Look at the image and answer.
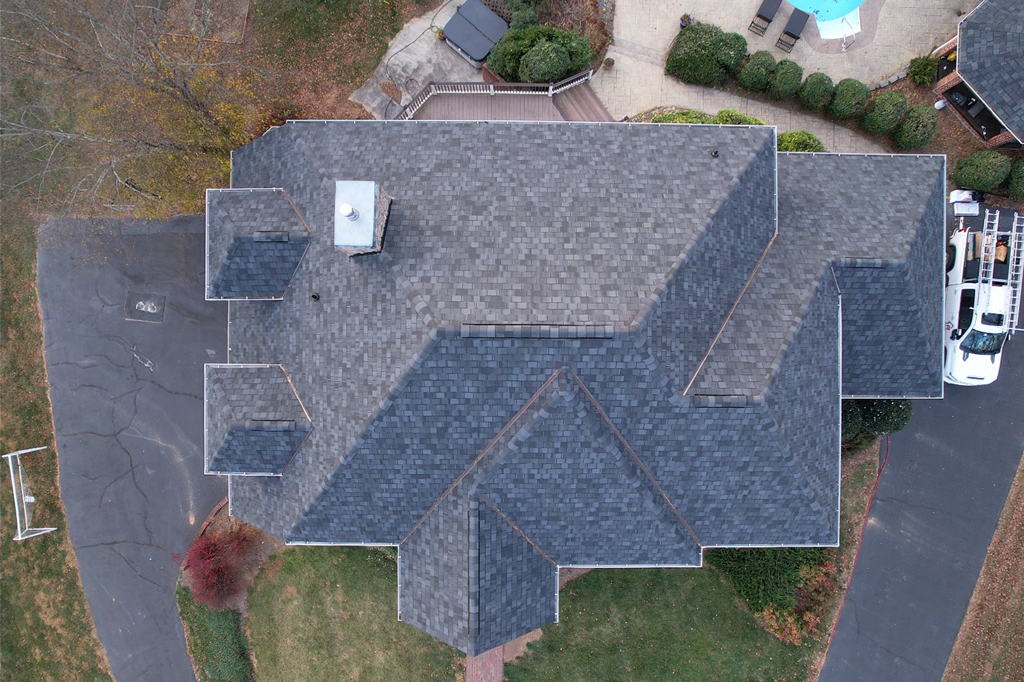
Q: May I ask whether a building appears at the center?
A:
Yes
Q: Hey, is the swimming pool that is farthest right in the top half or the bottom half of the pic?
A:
top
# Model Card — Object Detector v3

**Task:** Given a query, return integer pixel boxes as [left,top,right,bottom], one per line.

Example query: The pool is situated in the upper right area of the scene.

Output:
[780,0,886,53]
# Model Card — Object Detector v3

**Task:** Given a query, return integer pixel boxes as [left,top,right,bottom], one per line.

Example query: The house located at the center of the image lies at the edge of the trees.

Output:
[205,120,947,656]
